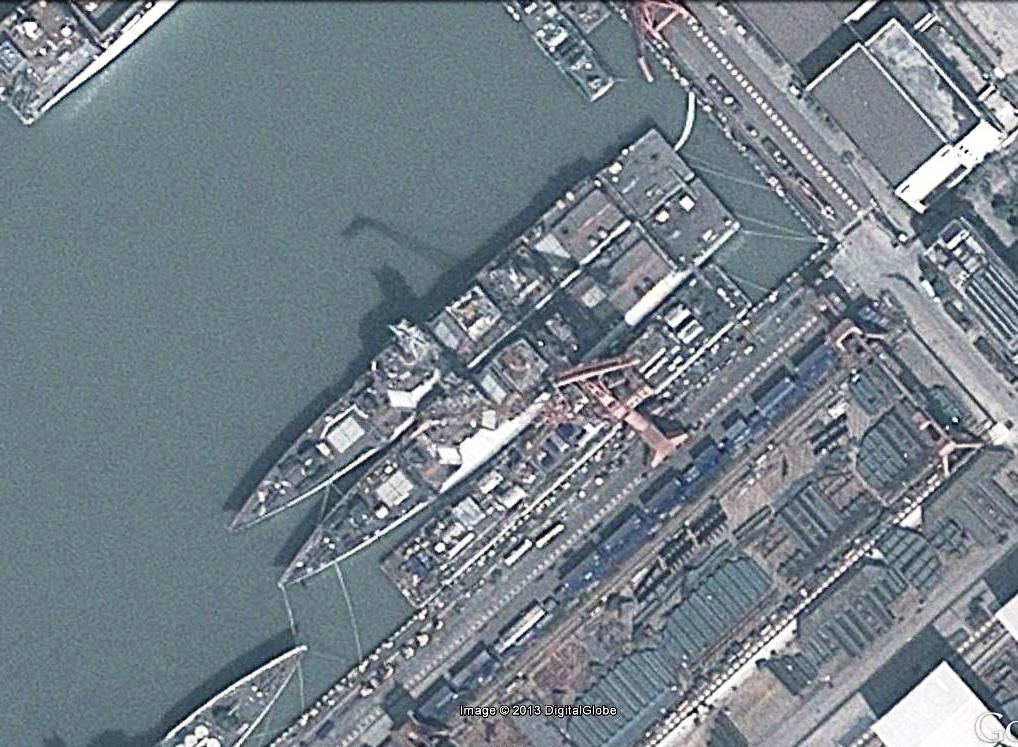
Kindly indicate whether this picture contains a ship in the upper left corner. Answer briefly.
Yes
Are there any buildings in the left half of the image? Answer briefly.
No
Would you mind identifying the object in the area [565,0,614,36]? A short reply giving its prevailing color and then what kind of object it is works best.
gray ship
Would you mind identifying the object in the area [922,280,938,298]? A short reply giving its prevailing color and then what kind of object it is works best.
white vehicle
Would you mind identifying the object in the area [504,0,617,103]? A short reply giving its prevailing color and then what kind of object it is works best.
gray boat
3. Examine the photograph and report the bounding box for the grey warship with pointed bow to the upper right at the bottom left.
[156,647,306,747]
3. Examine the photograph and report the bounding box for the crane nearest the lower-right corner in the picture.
[835,324,990,473]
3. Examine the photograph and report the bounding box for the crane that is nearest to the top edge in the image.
[621,0,688,82]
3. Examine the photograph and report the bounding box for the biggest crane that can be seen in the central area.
[410,352,694,471]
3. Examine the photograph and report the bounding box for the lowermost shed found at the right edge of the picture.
[871,662,1018,747]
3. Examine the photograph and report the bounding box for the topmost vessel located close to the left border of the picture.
[0,0,197,122]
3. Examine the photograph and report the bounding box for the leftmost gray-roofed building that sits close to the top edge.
[743,0,899,76]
